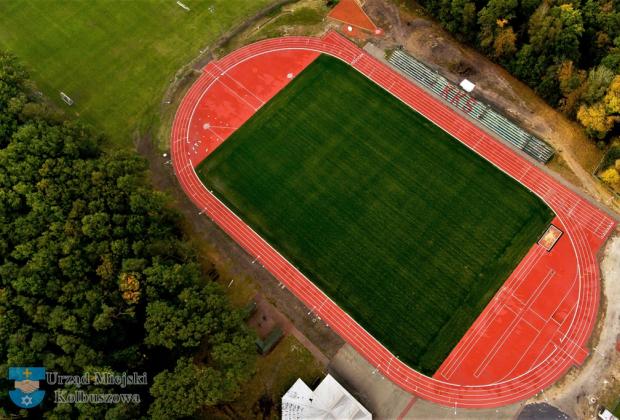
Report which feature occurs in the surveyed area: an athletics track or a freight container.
athletics track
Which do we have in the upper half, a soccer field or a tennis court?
soccer field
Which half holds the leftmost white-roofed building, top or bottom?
bottom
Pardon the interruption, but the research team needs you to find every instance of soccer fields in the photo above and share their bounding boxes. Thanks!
[0,0,257,126]
[194,53,556,377]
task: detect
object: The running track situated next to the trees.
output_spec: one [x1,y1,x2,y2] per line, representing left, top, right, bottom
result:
[170,29,616,410]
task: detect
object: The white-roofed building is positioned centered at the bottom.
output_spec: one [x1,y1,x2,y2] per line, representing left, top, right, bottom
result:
[282,373,378,420]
